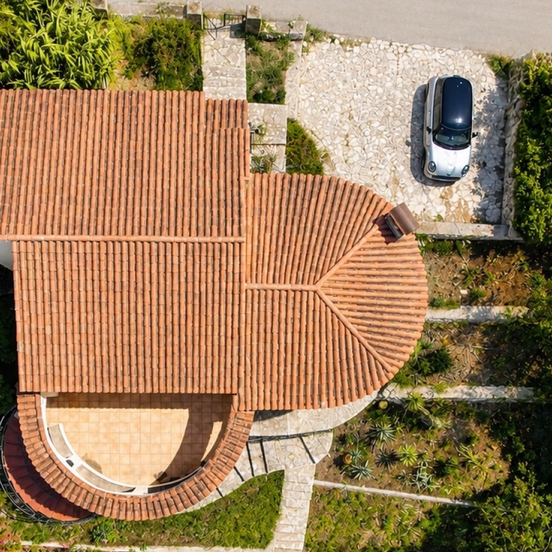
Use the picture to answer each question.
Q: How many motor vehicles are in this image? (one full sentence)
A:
I count 1 motor vehicle.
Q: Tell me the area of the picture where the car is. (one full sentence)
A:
The car is in the top right part of the image.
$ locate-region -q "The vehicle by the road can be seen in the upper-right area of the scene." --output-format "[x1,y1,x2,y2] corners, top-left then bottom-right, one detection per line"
[421,67,486,183]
